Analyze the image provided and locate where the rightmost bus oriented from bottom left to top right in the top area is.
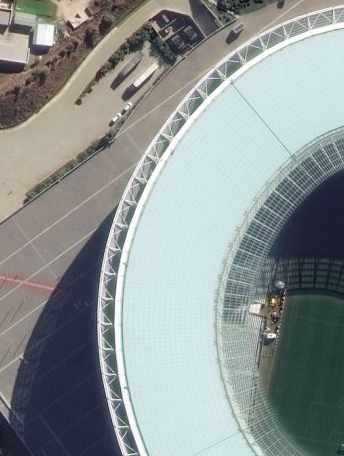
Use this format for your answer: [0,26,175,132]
[133,62,158,87]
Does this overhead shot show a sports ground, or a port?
sports ground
